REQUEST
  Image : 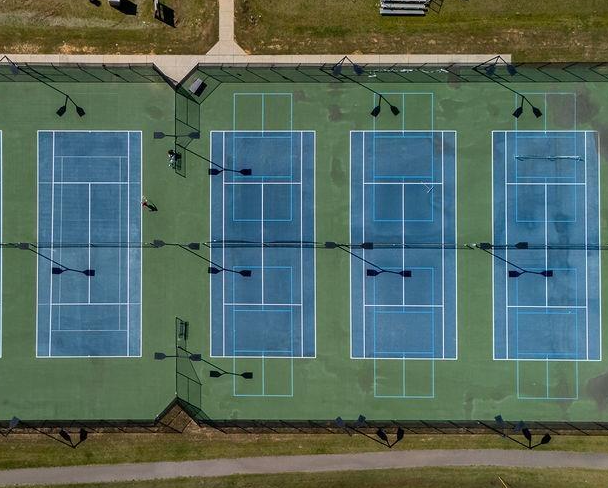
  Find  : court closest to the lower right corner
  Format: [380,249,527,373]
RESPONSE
[517,268,578,398]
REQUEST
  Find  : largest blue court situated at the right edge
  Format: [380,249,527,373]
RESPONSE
[492,131,601,361]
